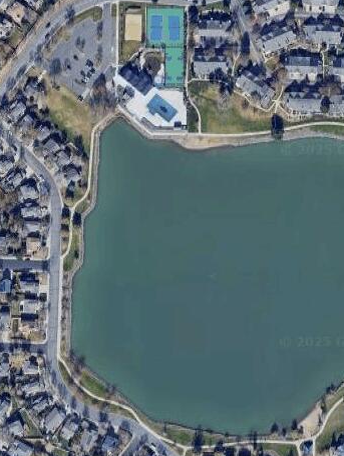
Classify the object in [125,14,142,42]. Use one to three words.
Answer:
sports court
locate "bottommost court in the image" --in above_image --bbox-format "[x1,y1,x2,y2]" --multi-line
[165,67,185,88]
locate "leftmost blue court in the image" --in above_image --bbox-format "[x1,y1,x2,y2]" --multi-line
[147,7,166,48]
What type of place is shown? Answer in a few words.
residential area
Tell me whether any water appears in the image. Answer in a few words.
Yes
